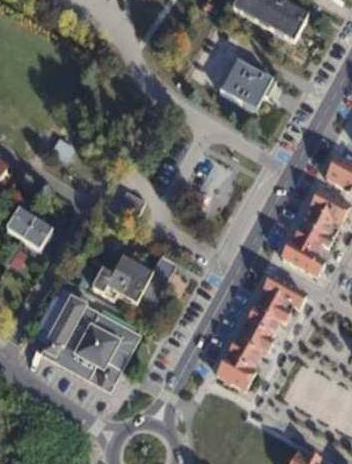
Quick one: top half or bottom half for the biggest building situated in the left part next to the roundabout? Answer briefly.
bottom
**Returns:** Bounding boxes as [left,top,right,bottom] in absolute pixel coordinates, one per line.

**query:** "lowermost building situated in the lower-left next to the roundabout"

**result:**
[30,295,141,395]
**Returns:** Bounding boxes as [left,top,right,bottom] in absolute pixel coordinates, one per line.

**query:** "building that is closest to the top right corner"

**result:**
[232,0,309,48]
